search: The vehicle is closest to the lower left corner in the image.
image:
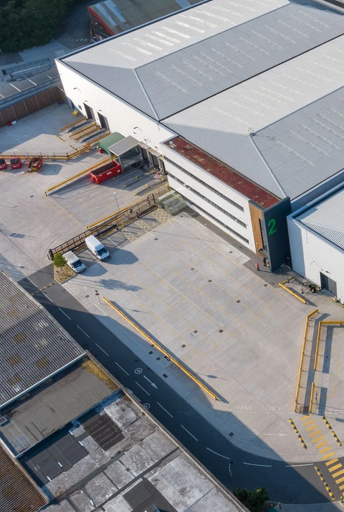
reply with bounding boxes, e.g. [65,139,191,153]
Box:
[62,249,86,273]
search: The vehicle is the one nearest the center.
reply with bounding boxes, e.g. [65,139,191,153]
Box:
[84,232,110,261]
